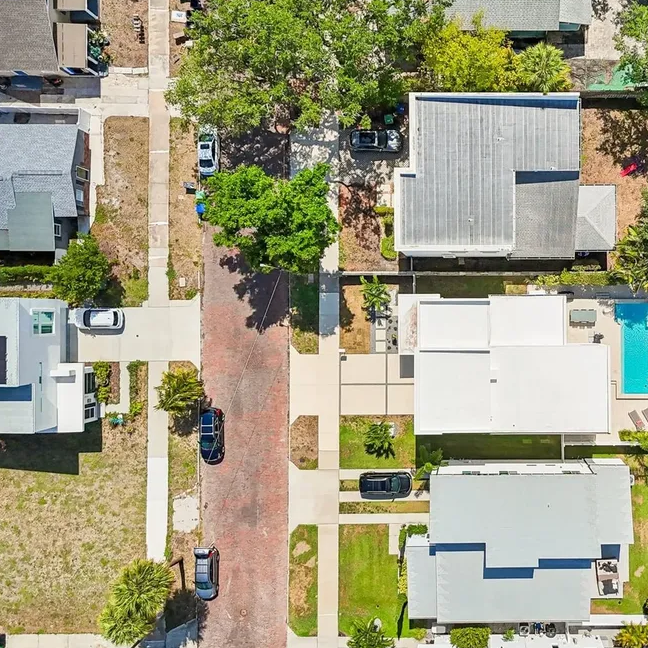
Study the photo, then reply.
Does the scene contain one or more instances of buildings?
Yes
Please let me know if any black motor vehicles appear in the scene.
Yes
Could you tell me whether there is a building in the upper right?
Yes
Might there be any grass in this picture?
Yes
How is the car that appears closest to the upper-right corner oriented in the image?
from left to right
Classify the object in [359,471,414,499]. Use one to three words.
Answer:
car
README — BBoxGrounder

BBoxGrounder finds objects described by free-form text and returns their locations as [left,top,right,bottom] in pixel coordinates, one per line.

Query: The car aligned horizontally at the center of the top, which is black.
[351,128,404,154]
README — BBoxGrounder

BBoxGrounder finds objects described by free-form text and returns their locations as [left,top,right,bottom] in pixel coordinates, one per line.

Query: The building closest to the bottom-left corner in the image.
[0,299,101,433]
